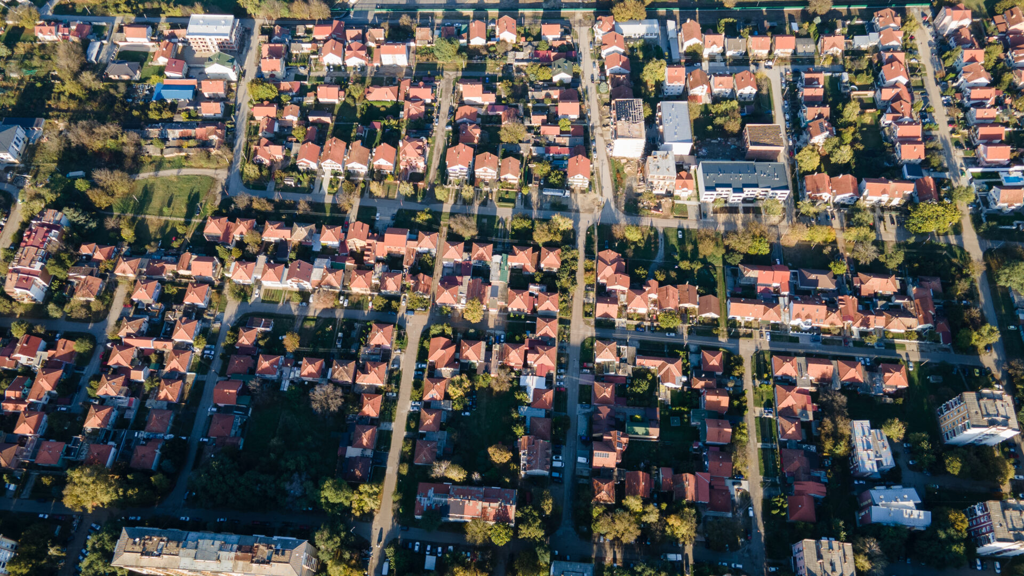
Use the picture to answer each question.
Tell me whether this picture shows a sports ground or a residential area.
residential area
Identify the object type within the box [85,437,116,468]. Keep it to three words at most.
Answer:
house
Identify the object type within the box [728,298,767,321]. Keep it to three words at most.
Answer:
house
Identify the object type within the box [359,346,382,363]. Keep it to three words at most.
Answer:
shed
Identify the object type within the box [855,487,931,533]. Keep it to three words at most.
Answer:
building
